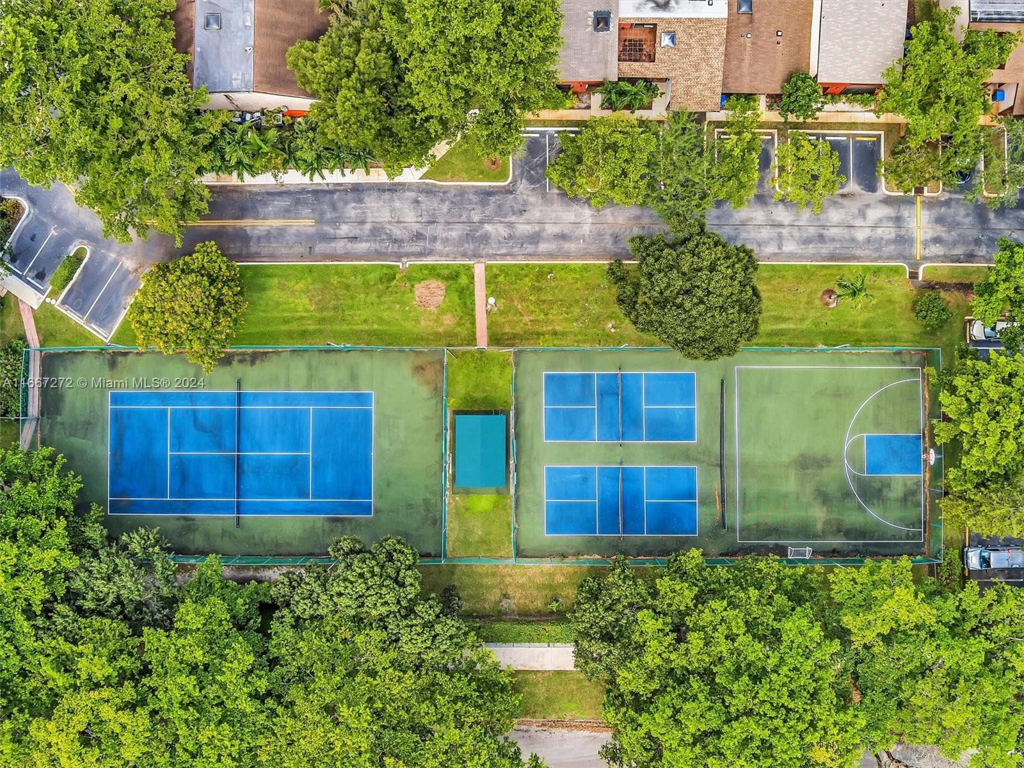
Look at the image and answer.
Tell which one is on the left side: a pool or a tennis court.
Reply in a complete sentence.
You can see a tennis court on the left side.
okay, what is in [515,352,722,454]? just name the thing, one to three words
sports court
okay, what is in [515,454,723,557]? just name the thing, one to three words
sports court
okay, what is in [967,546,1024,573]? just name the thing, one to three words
truck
